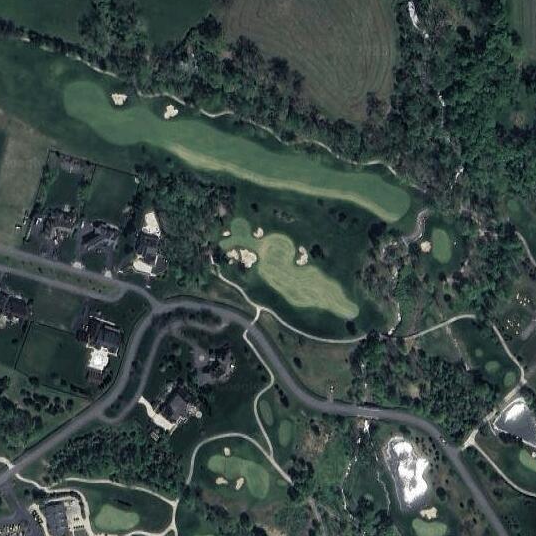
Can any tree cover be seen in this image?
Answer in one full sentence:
Yes, tree cover shows up in the scene.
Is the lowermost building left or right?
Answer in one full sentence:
You can find the lowermost building on the left side of the picture.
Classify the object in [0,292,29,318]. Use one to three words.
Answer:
house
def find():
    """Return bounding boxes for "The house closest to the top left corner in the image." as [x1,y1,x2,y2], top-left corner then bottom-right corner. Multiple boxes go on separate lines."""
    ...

[40,208,76,237]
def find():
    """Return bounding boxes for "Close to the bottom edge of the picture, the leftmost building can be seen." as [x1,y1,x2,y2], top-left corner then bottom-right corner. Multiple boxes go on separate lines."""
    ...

[42,502,67,536]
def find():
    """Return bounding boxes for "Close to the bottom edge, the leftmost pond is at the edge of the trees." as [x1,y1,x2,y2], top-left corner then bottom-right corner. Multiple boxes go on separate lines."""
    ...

[385,434,429,511]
